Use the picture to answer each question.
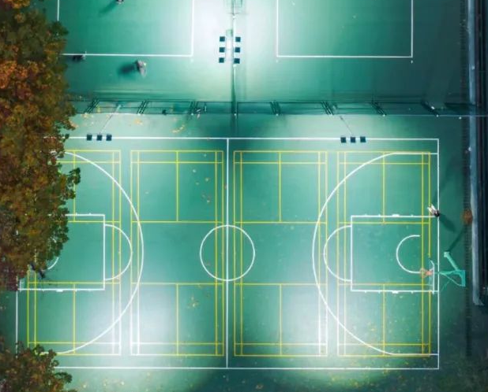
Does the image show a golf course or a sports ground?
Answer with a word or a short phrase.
sports ground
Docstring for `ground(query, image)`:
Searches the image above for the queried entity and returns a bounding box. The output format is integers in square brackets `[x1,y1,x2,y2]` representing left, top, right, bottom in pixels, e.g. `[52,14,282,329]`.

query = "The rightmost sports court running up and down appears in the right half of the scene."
[337,151,431,357]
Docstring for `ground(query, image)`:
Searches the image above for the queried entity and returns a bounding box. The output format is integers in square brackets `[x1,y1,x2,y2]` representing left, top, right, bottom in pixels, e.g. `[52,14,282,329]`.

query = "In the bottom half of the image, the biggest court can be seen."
[11,135,444,372]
